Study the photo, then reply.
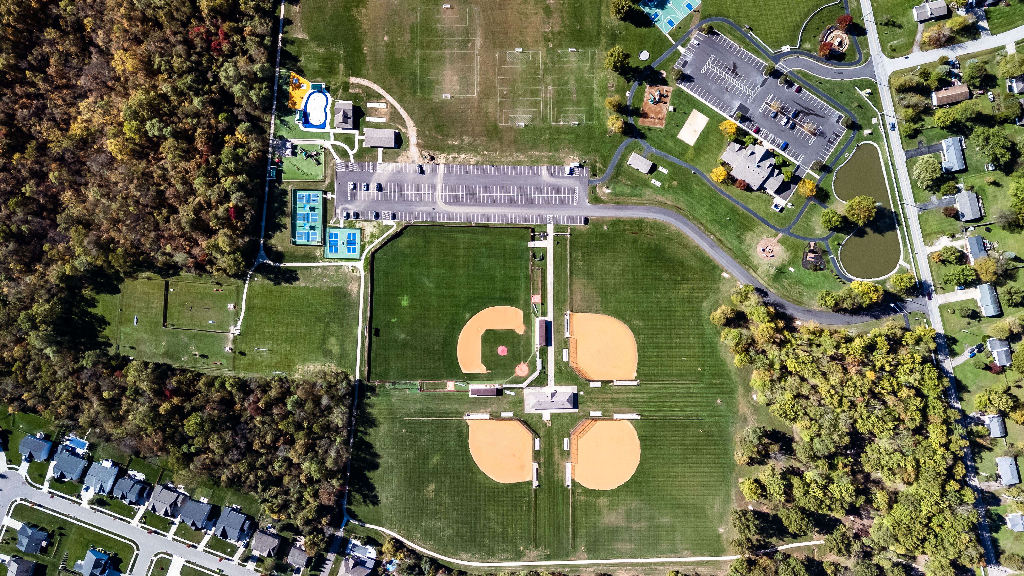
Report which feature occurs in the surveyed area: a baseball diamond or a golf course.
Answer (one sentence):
Visible in the photo is a baseball diamond.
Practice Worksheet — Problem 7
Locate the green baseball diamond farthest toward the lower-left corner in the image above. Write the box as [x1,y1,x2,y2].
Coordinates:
[339,254,536,416]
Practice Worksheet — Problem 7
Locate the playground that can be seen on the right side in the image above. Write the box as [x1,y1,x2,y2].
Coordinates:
[639,85,672,128]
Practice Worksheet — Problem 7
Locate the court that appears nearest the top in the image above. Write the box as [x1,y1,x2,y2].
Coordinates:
[639,0,702,34]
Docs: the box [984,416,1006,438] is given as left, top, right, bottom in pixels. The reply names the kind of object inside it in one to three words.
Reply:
house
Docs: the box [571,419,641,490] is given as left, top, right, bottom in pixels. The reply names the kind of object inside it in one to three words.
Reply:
baseball field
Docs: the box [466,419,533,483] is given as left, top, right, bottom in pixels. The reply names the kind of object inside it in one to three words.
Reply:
baseball field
